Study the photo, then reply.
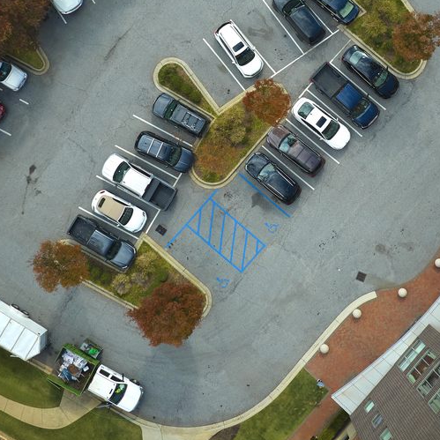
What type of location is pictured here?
parking lot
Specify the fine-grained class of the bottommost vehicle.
truck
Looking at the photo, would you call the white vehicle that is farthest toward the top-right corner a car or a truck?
car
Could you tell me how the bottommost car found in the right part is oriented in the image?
on a diagonal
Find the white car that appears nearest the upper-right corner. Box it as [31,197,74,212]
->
[291,96,350,150]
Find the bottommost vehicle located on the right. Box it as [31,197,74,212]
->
[246,152,298,208]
